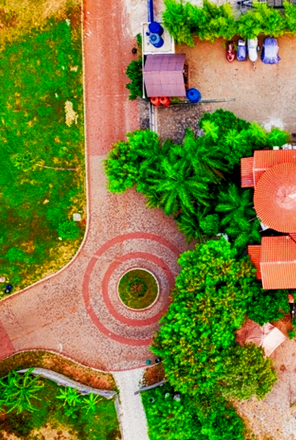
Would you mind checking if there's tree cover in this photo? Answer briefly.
Yes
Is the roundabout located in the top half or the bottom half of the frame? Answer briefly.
bottom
